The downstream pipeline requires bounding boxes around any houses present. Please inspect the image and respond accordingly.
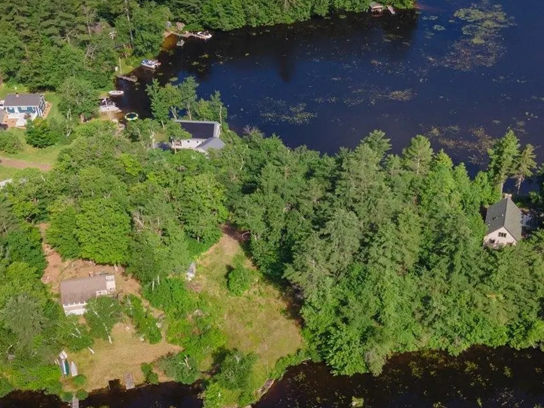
[479,193,536,252]
[62,270,119,316]
[173,119,225,158]
[4,92,44,119]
